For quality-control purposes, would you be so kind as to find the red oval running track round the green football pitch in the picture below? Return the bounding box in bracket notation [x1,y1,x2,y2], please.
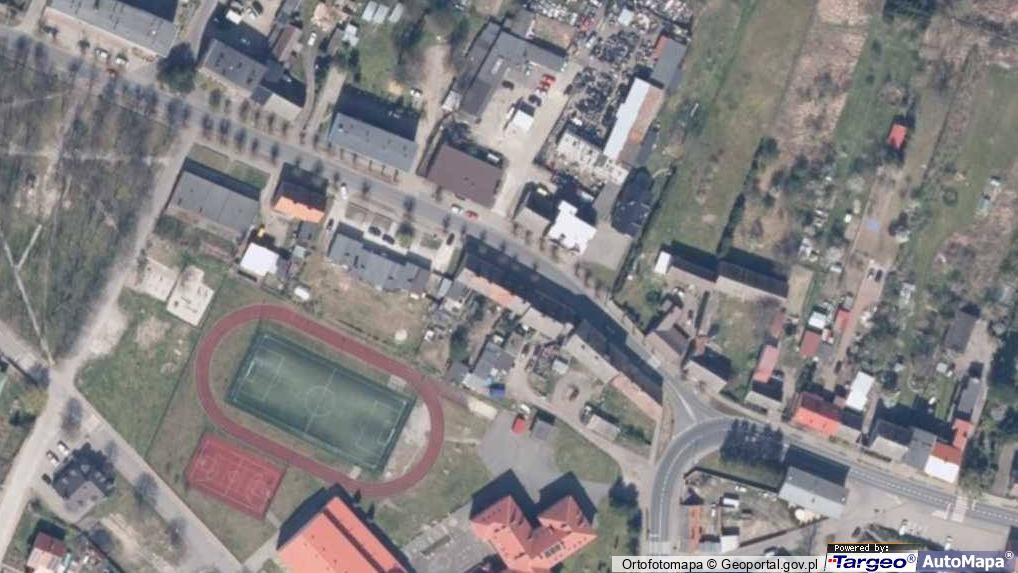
[196,303,444,495]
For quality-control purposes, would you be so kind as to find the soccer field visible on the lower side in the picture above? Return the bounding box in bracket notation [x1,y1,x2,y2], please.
[228,331,412,473]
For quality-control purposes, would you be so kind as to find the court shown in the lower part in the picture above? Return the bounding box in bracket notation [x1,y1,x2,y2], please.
[185,434,284,518]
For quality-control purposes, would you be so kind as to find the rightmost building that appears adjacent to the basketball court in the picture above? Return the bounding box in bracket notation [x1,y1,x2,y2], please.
[278,496,411,573]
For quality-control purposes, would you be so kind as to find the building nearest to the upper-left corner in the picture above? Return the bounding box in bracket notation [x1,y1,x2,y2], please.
[47,0,179,57]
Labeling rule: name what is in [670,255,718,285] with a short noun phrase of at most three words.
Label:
barn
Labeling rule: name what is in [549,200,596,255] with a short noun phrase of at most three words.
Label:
building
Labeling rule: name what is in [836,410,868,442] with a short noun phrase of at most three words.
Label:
house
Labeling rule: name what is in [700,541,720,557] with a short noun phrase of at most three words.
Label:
shed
